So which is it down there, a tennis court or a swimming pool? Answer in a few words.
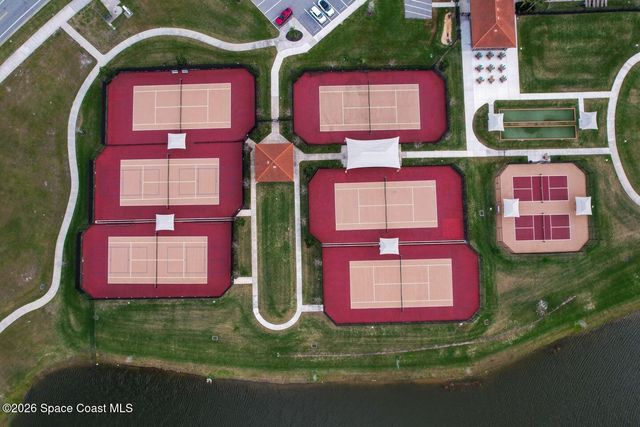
tennis court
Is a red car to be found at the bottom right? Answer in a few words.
No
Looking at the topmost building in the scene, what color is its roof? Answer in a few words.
red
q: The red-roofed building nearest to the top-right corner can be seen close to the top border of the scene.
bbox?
[468,0,516,53]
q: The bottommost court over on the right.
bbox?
[322,242,480,323]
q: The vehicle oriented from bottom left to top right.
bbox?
[275,7,294,26]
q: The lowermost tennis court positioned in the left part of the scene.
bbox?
[82,221,233,298]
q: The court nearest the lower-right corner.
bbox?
[512,213,572,243]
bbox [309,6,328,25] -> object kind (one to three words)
car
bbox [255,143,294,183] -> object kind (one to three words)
building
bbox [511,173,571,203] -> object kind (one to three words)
sports court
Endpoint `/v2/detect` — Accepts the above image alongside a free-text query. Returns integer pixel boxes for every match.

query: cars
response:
[318,0,336,18]
[309,6,328,25]
[275,7,294,26]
